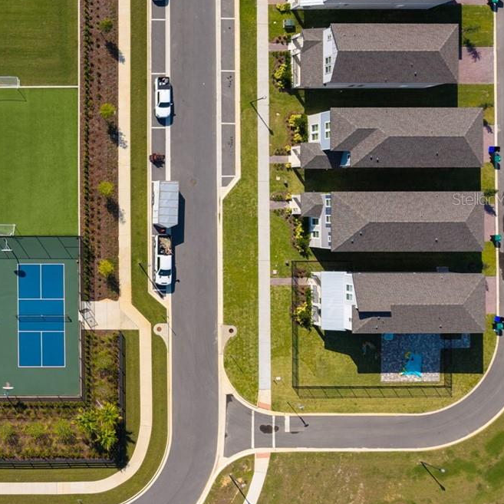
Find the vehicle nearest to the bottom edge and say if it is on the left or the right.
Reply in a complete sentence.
The vehicle nearest to the bottom edge is on the left side of the image.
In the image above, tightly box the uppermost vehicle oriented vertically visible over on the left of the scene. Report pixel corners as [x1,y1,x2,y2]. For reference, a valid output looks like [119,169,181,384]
[153,77,174,120]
